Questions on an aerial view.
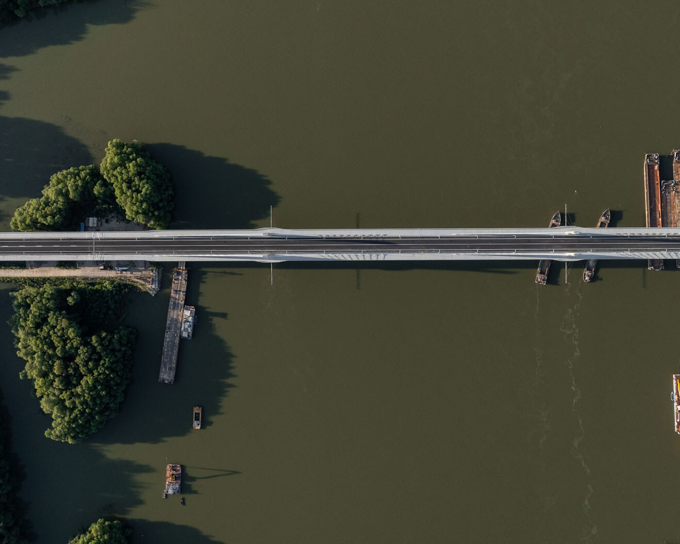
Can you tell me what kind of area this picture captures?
port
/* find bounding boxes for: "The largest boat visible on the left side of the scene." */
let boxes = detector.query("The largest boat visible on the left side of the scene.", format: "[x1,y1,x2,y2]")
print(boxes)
[181,304,196,339]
